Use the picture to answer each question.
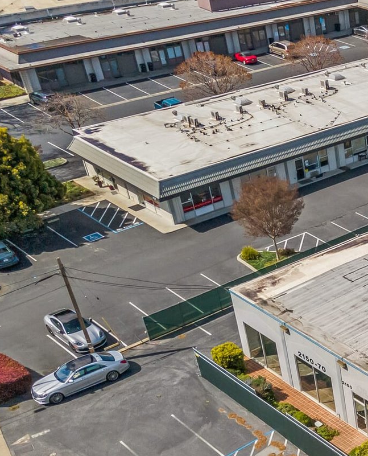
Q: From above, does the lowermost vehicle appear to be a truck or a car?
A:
car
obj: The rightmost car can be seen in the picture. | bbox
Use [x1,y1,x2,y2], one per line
[354,27,368,40]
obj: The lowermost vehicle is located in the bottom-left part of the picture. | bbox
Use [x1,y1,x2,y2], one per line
[28,345,130,400]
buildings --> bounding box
[229,232,368,434]
[65,54,368,222]
[0,0,368,90]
